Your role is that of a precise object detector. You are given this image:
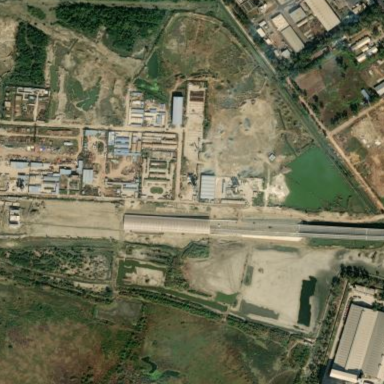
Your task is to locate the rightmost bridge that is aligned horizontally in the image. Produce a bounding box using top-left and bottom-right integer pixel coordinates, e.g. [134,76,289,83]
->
[300,224,384,239]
